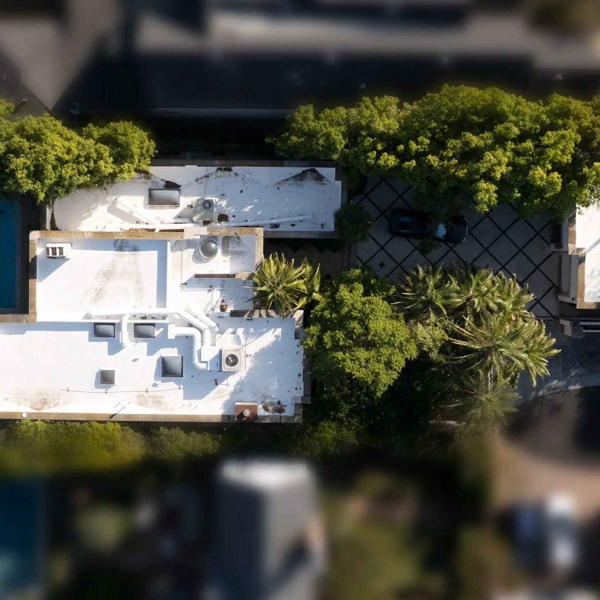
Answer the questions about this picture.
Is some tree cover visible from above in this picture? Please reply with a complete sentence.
Yes, tree cover can be seen from above here.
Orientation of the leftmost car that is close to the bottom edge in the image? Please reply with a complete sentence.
From this overhead view, the leftmost car that is close to the bottom edge appears to run vertically.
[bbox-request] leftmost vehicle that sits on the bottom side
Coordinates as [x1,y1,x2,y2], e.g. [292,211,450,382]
[511,494,551,578]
